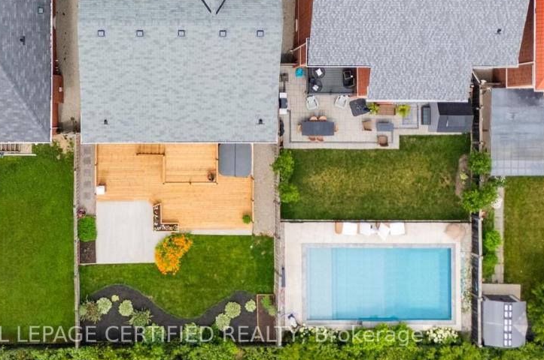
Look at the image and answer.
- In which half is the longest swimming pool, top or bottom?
bottom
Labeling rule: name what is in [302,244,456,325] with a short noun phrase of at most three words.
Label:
swimming pool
